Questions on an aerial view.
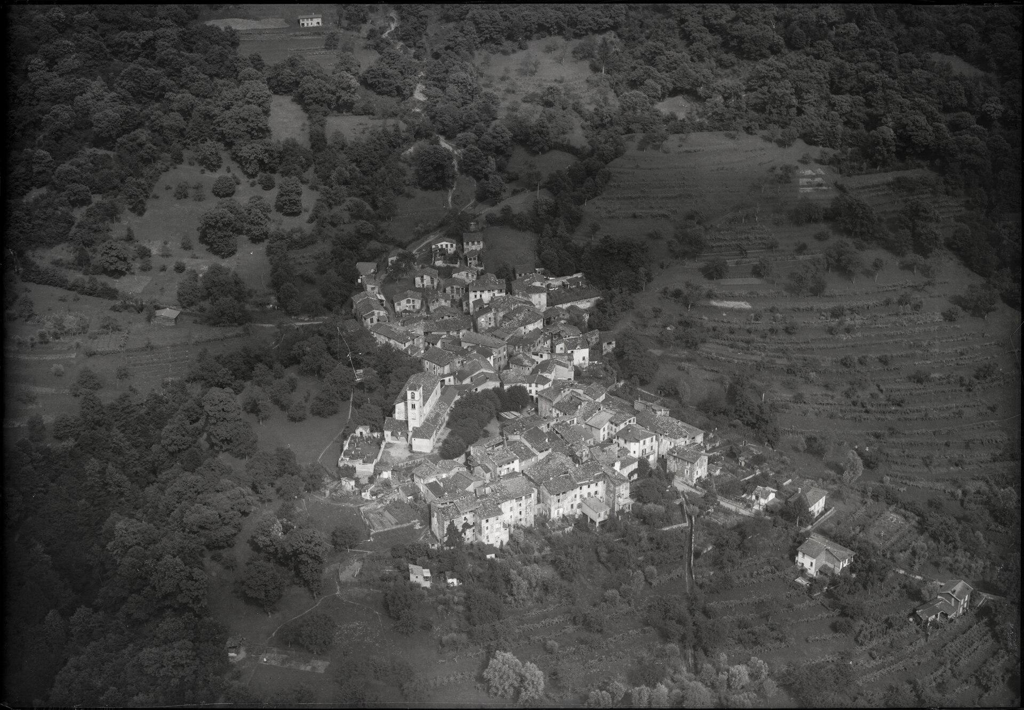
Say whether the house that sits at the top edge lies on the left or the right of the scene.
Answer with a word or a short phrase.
left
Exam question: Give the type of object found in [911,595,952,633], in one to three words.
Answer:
house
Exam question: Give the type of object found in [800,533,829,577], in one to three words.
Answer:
house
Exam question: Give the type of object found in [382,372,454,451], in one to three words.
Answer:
building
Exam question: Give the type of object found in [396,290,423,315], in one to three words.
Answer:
barn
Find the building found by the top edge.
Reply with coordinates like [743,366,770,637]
[298,10,322,30]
